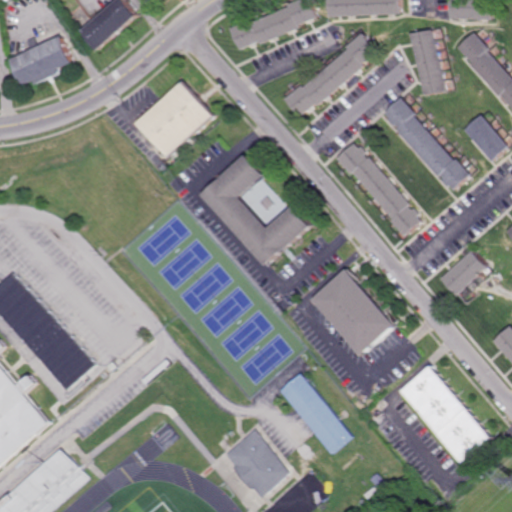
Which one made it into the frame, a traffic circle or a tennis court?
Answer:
tennis court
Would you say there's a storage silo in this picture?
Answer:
No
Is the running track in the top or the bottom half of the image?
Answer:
bottom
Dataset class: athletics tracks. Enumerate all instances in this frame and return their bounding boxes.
[58,424,239,512]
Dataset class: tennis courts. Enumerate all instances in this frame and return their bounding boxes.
[139,216,190,265]
[200,288,252,337]
[221,312,273,360]
[160,240,212,289]
[242,335,294,384]
[180,264,232,313]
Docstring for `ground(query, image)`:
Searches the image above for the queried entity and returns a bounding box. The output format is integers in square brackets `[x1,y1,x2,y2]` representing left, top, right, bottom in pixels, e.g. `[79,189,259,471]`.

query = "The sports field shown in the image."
[90,482,214,512]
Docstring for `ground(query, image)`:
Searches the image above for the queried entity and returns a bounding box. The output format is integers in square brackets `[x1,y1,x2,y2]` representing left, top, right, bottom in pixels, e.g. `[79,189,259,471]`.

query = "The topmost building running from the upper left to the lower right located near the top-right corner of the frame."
[458,33,512,115]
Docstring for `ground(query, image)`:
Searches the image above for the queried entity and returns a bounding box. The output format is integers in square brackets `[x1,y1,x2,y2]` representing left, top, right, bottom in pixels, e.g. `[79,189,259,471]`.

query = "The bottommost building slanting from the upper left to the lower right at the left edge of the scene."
[0,274,94,388]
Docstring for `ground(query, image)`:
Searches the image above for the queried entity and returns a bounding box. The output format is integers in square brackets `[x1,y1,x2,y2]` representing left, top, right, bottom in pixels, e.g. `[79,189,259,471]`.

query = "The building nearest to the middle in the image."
[199,156,306,263]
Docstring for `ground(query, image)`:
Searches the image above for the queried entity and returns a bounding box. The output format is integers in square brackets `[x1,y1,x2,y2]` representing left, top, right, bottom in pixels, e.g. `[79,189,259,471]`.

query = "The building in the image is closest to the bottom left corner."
[0,448,92,512]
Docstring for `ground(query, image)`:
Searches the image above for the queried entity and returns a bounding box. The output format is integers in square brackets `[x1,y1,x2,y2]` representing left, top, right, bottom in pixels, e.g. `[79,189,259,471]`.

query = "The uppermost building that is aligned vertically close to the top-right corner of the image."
[409,29,446,96]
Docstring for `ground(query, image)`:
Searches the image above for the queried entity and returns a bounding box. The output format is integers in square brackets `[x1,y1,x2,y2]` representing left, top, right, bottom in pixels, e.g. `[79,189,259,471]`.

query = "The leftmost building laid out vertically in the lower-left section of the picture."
[0,340,52,468]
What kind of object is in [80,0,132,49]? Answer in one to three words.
house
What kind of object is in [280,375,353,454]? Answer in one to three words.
barn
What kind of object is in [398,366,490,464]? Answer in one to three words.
building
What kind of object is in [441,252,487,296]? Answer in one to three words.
building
